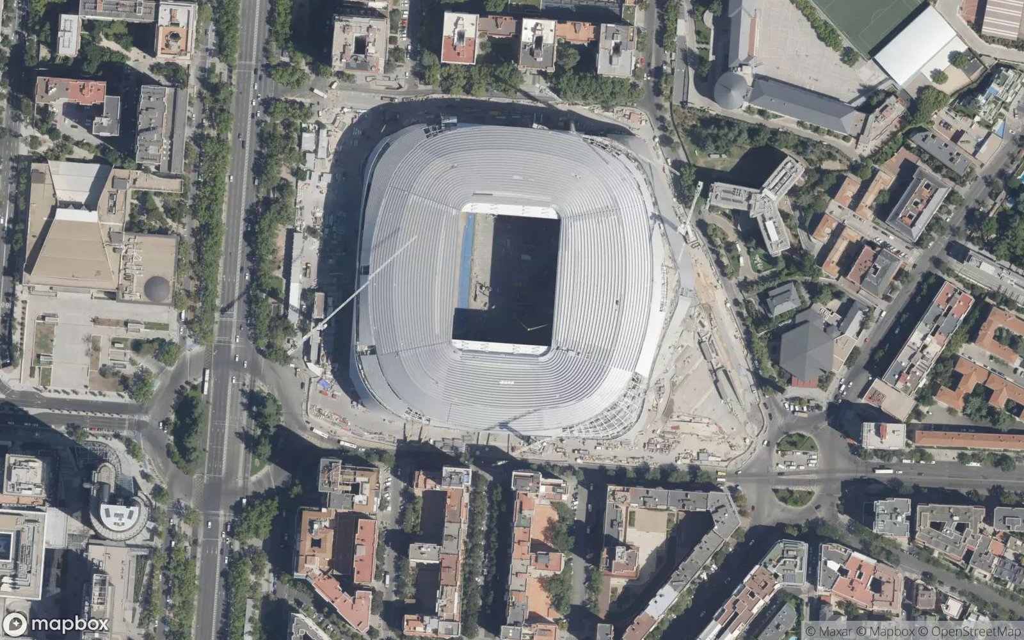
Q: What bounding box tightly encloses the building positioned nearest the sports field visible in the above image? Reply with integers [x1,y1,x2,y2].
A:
[872,6,956,86]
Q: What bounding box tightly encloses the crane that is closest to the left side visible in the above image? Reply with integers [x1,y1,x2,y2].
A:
[287,235,417,354]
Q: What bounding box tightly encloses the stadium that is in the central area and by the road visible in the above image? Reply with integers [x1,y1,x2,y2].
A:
[351,117,665,442]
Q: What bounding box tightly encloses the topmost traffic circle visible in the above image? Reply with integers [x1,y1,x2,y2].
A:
[771,432,819,508]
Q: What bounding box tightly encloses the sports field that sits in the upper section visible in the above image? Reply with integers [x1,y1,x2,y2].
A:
[812,0,930,58]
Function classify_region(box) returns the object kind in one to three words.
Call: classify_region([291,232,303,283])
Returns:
shed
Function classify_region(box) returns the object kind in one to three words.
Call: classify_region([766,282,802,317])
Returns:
house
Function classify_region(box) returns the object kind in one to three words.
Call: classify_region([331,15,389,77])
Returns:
building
